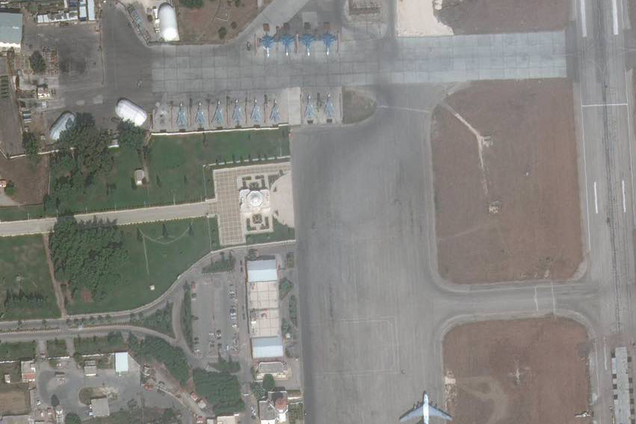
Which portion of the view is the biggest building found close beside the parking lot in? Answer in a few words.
bottom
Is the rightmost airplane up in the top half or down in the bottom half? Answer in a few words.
bottom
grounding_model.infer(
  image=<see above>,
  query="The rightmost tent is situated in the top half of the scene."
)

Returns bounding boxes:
[158,7,178,43]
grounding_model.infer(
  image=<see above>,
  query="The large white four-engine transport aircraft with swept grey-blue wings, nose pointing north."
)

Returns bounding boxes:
[401,394,452,424]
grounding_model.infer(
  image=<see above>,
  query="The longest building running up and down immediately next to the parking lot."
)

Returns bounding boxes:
[247,258,284,363]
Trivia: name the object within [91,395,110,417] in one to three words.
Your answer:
building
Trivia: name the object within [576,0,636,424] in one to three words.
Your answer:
runway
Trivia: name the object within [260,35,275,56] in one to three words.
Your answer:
airplane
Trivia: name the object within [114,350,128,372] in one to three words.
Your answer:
building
